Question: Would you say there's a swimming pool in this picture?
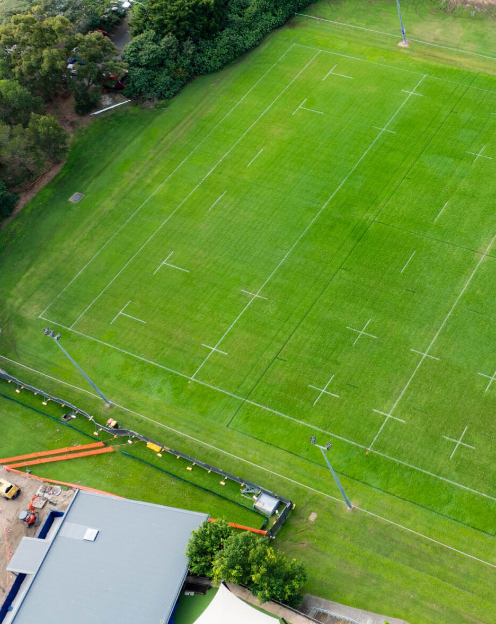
No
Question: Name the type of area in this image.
sports ground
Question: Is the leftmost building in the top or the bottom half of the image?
bottom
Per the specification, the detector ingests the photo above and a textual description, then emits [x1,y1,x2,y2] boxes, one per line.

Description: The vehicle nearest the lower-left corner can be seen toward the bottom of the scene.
[17,495,41,533]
